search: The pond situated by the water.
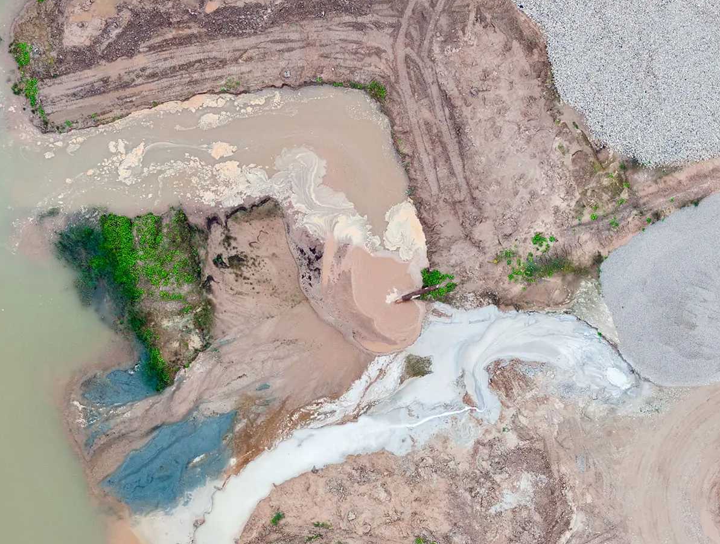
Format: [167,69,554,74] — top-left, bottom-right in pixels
[33,83,429,353]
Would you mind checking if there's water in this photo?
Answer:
Yes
